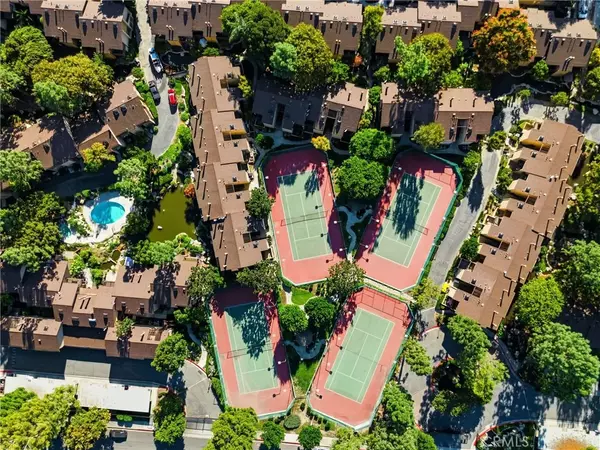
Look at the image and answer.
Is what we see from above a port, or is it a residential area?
residential area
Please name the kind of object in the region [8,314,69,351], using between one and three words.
house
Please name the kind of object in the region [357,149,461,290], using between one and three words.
tennis court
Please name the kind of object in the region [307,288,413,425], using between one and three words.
tennis court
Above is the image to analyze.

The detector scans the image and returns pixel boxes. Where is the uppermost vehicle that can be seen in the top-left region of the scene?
[149,48,163,73]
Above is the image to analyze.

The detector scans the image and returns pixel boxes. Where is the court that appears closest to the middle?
[261,146,348,284]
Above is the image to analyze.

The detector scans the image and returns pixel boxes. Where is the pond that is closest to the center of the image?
[148,189,206,244]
